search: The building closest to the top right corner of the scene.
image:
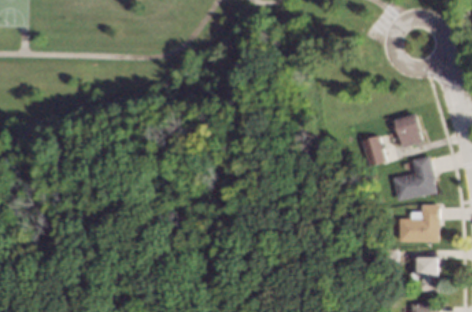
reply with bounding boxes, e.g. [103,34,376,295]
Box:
[394,114,422,146]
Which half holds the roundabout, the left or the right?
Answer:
right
